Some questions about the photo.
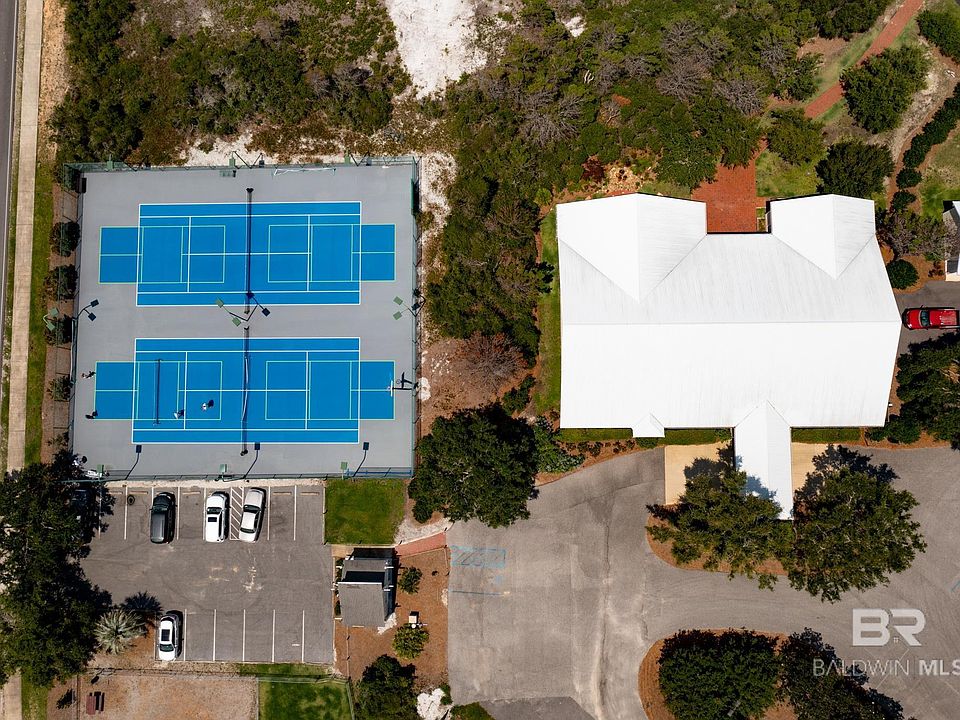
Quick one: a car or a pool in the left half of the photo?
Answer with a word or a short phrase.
car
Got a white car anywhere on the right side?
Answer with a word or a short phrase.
No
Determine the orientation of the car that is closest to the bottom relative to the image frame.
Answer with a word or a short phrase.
vertically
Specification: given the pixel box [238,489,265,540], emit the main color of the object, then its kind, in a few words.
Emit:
white car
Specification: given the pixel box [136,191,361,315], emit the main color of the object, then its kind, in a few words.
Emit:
blue tennis court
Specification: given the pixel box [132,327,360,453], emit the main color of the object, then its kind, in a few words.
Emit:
blue tennis court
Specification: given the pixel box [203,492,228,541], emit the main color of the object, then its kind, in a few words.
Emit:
white car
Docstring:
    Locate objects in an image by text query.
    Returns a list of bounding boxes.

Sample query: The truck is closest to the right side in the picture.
[899,308,959,330]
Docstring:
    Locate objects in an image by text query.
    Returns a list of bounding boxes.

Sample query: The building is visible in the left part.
[331,557,398,631]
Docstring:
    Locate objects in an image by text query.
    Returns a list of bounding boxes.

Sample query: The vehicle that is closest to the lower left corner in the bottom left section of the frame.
[157,613,180,659]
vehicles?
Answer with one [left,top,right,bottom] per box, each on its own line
[899,308,959,330]
[157,613,180,659]
[150,493,173,542]
[203,492,228,541]
[238,489,265,540]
